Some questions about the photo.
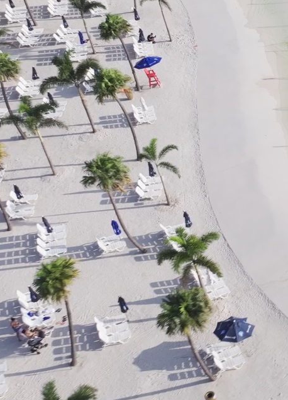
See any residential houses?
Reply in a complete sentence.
No, the photo shows no residential house.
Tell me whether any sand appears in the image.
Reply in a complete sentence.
Yes, some sand is visible.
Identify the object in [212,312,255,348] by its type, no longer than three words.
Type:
umbrella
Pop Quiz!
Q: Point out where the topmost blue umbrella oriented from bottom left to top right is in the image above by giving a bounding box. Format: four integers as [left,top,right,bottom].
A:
[136,53,161,71]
